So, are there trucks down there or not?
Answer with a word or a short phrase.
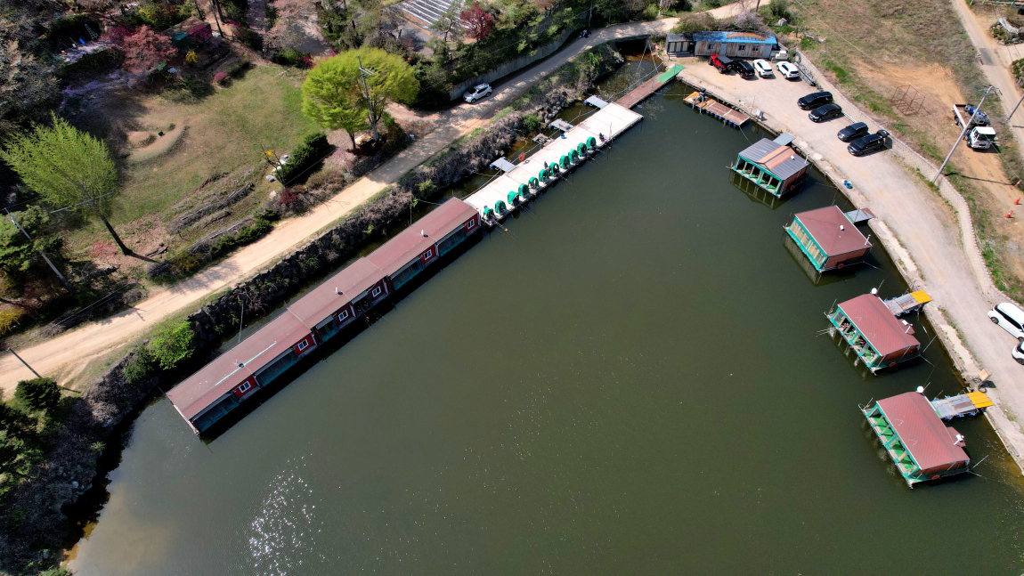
Yes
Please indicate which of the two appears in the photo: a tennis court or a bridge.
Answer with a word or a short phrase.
bridge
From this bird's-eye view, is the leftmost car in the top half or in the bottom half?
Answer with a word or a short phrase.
top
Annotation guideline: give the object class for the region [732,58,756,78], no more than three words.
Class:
car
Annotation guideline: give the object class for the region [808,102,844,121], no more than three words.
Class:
car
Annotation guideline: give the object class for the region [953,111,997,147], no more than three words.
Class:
truck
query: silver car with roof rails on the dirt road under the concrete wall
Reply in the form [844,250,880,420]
[462,81,495,102]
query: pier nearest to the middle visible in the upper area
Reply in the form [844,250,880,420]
[464,102,643,227]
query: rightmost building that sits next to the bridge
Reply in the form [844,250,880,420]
[693,29,781,58]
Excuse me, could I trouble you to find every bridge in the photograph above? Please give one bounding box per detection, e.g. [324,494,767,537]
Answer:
[609,20,668,54]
